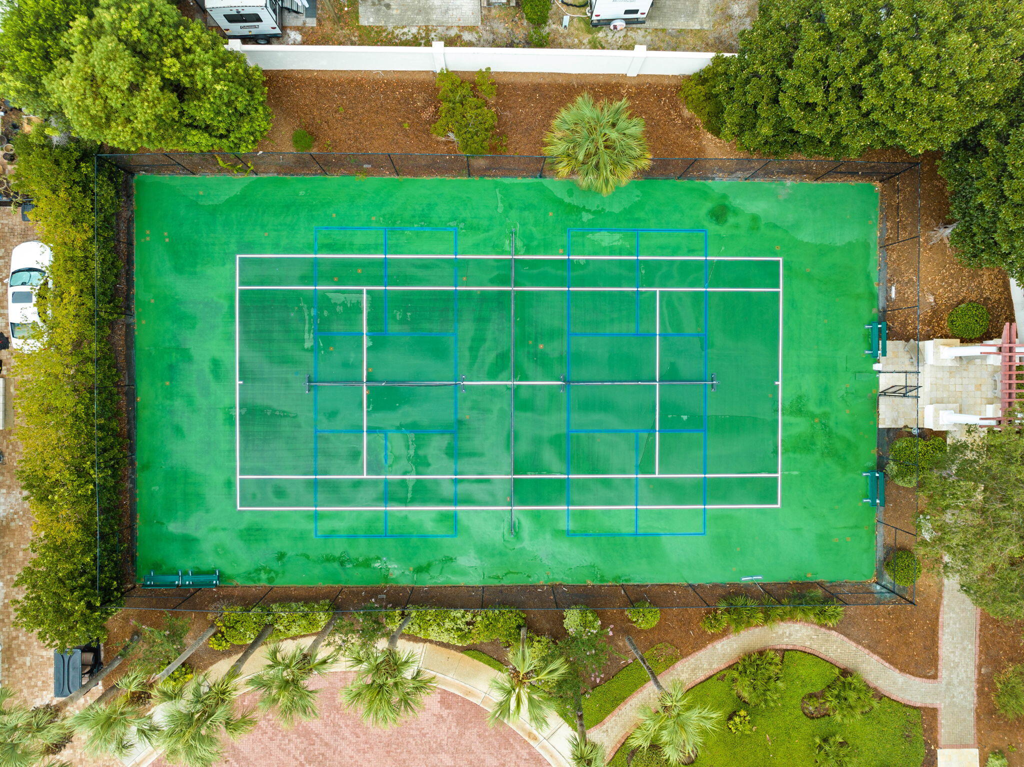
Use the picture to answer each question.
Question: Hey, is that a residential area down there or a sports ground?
sports ground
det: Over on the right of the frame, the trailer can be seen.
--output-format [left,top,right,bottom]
[584,0,654,37]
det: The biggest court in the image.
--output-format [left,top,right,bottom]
[134,176,879,586]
